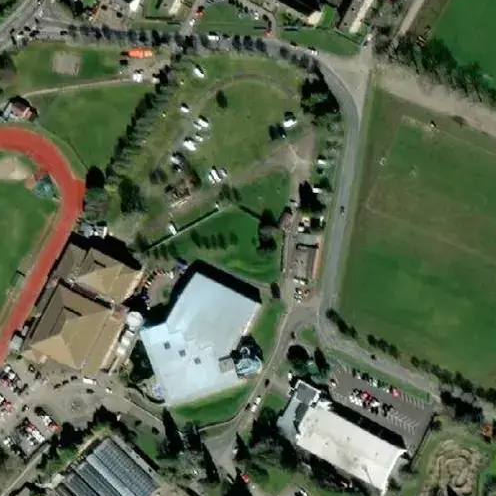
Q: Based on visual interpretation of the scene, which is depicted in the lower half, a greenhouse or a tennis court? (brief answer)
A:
greenhouse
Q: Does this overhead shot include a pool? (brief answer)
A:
No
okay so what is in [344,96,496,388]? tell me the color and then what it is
green sports field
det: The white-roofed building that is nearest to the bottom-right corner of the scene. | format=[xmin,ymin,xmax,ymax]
[297,404,410,495]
